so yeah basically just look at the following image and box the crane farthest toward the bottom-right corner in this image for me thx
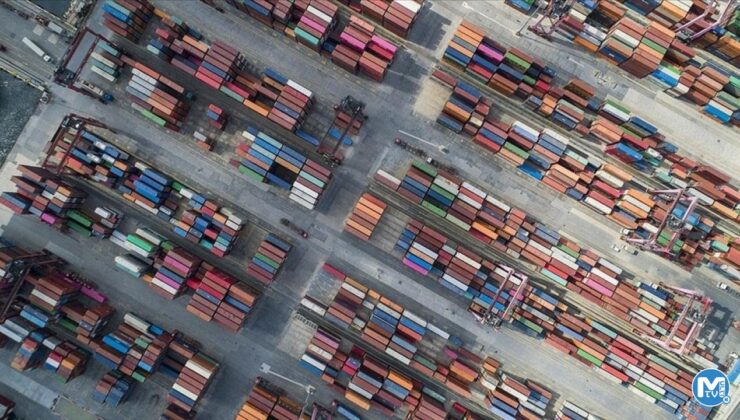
[638,285,718,357]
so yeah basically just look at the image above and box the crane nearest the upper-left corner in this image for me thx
[50,23,127,100]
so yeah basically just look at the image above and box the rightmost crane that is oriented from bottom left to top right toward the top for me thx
[676,0,736,45]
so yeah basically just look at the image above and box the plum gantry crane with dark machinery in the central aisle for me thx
[316,98,366,166]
